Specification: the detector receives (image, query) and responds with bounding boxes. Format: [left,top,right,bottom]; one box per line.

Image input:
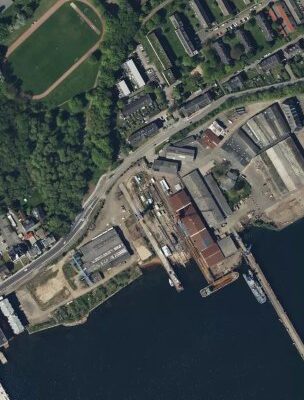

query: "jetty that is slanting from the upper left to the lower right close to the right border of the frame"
[238,243,304,361]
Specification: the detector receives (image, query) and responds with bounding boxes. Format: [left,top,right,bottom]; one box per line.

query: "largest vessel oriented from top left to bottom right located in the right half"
[243,272,266,303]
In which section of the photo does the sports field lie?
top left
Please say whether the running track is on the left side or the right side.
left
